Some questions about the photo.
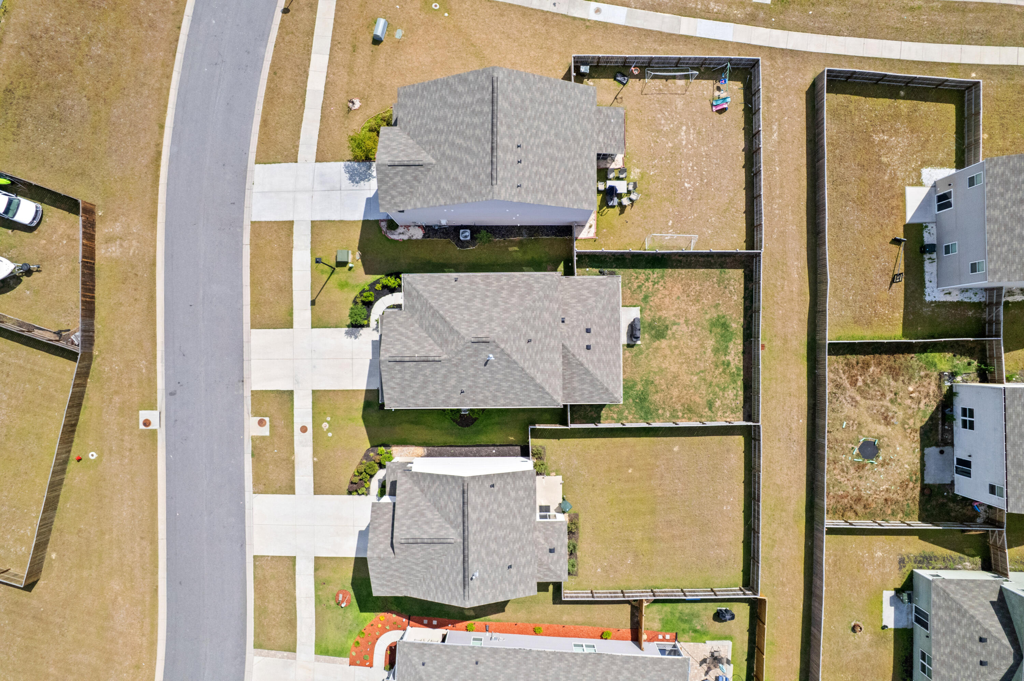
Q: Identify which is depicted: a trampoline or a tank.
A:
trampoline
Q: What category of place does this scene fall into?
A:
residential area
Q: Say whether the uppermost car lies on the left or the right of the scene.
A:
left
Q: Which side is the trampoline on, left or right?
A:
right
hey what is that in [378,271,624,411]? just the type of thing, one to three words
house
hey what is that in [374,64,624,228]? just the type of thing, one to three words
house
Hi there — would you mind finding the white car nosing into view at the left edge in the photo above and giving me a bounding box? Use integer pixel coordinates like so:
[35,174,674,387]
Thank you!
[0,191,44,227]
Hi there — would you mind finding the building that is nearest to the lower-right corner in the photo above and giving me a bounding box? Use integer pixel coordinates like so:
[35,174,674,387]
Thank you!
[913,570,1024,681]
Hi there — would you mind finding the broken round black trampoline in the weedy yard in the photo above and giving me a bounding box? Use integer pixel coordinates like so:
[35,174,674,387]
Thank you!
[858,437,884,463]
